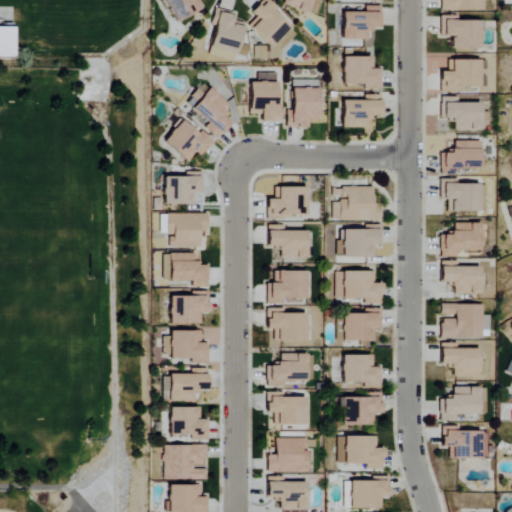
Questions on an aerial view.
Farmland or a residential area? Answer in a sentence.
This image shows a residential area.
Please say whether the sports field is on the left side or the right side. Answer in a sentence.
The sports field sits on the left side.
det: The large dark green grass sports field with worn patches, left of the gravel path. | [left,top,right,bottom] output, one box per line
[0,69,110,484]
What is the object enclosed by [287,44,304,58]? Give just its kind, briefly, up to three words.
swimming pool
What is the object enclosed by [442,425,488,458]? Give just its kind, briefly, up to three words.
house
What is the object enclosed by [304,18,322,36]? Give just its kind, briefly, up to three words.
swimming pool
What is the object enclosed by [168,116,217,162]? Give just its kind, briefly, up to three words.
house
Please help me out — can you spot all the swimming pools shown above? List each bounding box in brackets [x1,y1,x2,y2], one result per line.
[326,322,336,345]
[156,168,166,182]
[311,488,322,508]
[153,485,164,508]
[165,78,186,92]
[484,28,494,44]
[466,470,490,482]
[304,18,322,36]
[500,462,512,474]
[332,486,342,502]
[159,36,180,49]
[500,500,512,512]
[156,102,166,121]
[287,44,304,58]
[233,69,250,80]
